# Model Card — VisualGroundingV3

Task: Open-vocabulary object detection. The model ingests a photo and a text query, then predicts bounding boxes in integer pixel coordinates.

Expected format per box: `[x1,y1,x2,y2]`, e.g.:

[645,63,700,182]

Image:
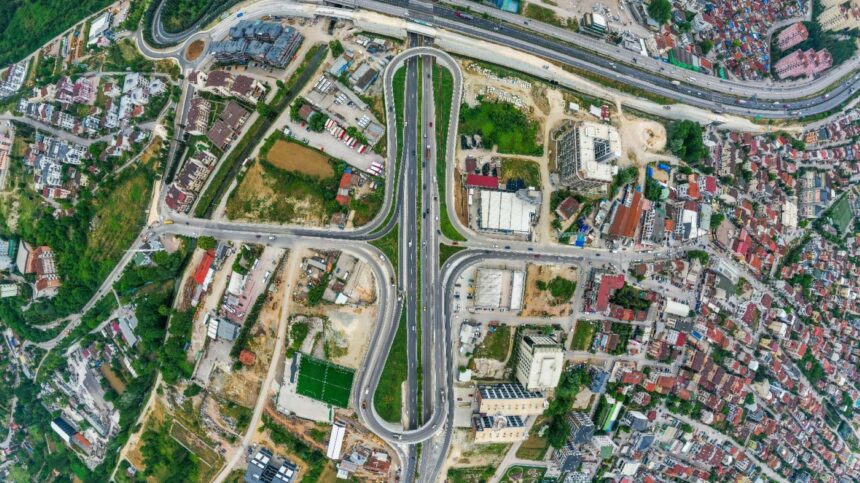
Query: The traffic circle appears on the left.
[178,31,211,68]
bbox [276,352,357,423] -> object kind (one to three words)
soccer field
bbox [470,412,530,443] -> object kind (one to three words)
building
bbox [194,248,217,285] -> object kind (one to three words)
shed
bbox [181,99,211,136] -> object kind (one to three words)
house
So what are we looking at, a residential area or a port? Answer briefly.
residential area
